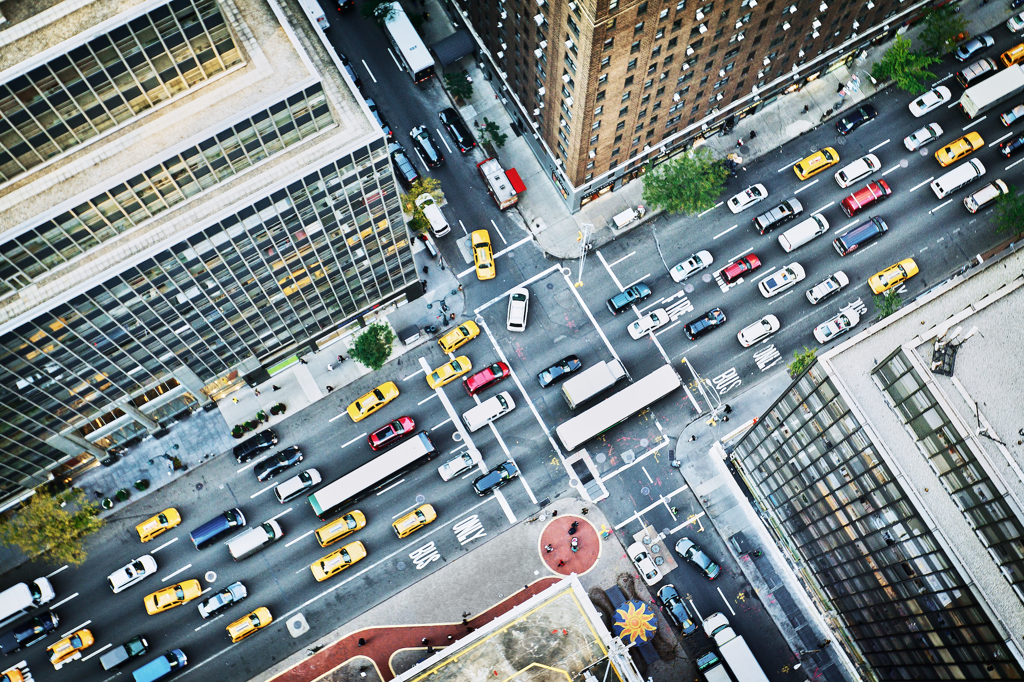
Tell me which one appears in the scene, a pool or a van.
van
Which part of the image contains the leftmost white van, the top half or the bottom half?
bottom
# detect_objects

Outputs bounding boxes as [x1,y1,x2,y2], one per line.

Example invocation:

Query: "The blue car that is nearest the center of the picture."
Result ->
[538,355,582,388]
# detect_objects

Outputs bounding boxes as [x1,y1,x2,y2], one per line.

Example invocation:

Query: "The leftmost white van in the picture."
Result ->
[0,583,58,628]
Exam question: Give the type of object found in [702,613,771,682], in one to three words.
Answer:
truck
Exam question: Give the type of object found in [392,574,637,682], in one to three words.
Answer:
building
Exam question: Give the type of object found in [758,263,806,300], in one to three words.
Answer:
car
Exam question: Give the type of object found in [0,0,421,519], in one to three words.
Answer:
building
